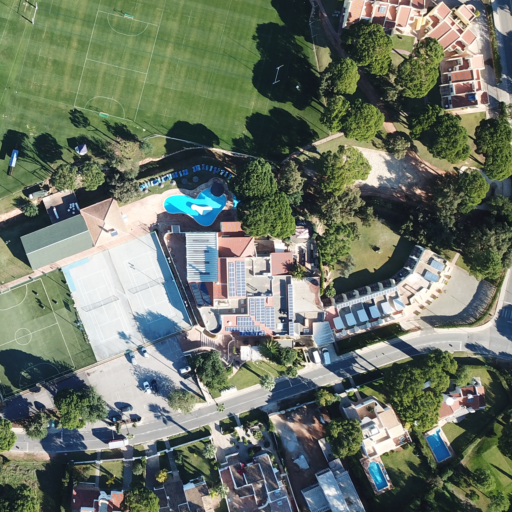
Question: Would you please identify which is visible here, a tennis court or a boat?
tennis court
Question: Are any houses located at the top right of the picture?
Yes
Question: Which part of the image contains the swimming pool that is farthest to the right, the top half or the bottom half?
bottom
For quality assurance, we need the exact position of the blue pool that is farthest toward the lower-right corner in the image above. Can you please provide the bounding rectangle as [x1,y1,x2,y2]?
[426,430,453,464]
